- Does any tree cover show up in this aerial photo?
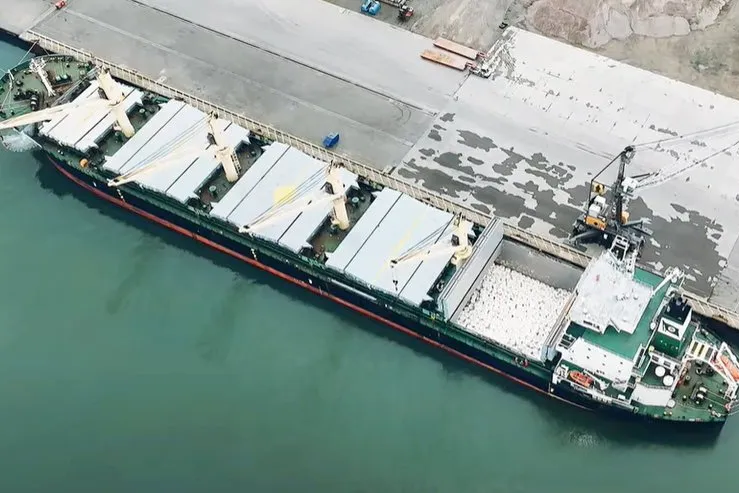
No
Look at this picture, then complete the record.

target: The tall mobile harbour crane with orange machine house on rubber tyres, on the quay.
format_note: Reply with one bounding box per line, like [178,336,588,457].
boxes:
[560,117,739,268]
